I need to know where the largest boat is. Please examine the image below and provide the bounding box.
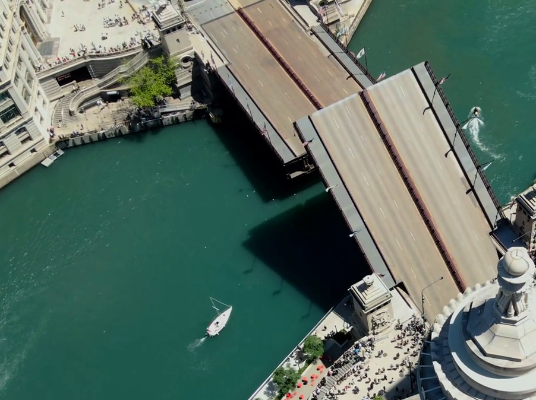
[202,296,234,340]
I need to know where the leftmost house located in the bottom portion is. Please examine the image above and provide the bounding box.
[347,273,403,345]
